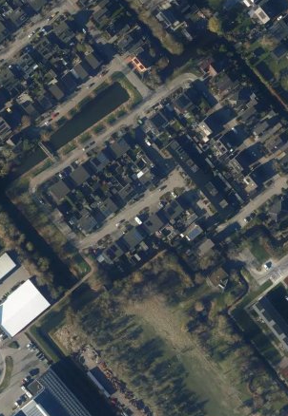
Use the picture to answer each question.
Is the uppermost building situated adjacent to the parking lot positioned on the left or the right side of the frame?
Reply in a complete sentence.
The uppermost building situated adjacent to the parking lot is on the left side of the image.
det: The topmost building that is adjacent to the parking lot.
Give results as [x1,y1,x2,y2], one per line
[0,281,51,338]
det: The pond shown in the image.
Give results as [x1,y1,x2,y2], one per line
[6,82,130,179]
